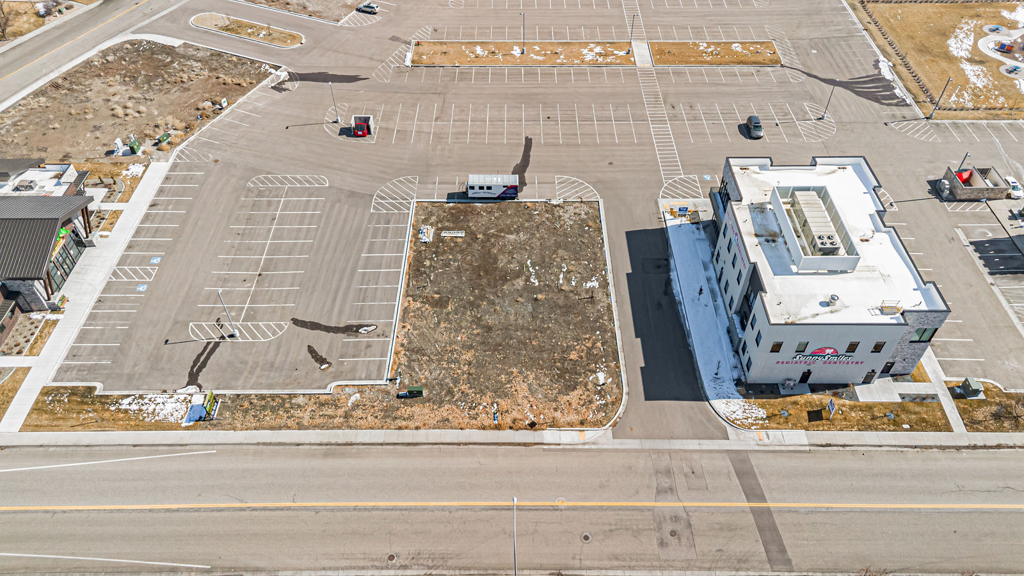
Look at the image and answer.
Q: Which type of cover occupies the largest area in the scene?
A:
paved ground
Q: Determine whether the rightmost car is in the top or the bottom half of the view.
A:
top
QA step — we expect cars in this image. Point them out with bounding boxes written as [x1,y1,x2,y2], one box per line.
[747,113,767,137]
[1003,173,1024,199]
[355,1,381,13]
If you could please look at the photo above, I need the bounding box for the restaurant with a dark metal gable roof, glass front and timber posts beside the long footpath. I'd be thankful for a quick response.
[0,147,101,332]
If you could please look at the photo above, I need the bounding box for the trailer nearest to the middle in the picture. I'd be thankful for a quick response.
[460,170,521,199]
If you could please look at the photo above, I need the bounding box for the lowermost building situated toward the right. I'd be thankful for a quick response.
[704,156,950,383]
